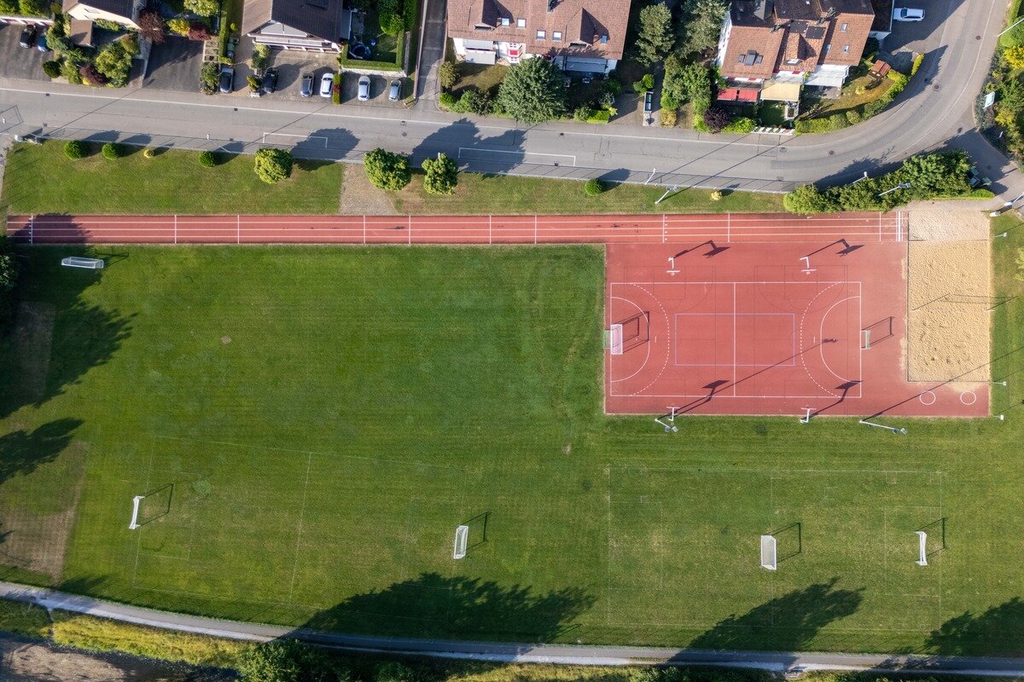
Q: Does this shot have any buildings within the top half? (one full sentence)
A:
Yes, a building can be seen within the top half.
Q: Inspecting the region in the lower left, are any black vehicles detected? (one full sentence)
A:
No, I can find no black vehicle in the lower left.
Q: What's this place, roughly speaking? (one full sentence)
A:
It's a sports ground.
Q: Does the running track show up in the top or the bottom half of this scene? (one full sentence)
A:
The top half of the photo is where the running track is.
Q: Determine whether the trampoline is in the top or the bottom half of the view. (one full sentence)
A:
Seen from above, the trampoline lies in the top half of the view.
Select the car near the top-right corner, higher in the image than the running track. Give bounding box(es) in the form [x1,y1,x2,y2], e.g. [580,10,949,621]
[894,7,924,23]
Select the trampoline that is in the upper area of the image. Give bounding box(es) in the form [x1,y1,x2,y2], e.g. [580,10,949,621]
[351,42,371,62]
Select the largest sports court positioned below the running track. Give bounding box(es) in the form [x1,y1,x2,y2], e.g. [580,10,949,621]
[604,242,992,419]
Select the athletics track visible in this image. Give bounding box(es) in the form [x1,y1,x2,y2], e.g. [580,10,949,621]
[7,211,908,245]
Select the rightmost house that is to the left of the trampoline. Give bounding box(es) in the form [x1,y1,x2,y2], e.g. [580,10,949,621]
[241,0,356,55]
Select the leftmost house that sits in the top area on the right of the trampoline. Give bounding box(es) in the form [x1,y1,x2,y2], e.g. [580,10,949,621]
[448,0,630,83]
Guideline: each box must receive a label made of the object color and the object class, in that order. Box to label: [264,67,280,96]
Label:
black car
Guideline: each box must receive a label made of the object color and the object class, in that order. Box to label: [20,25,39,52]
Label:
black car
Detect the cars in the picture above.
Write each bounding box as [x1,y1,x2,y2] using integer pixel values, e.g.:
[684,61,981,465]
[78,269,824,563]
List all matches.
[264,67,280,96]
[389,79,402,103]
[219,66,234,94]
[358,76,371,102]
[894,7,924,23]
[36,31,52,55]
[321,72,335,99]
[301,71,315,99]
[20,25,39,52]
